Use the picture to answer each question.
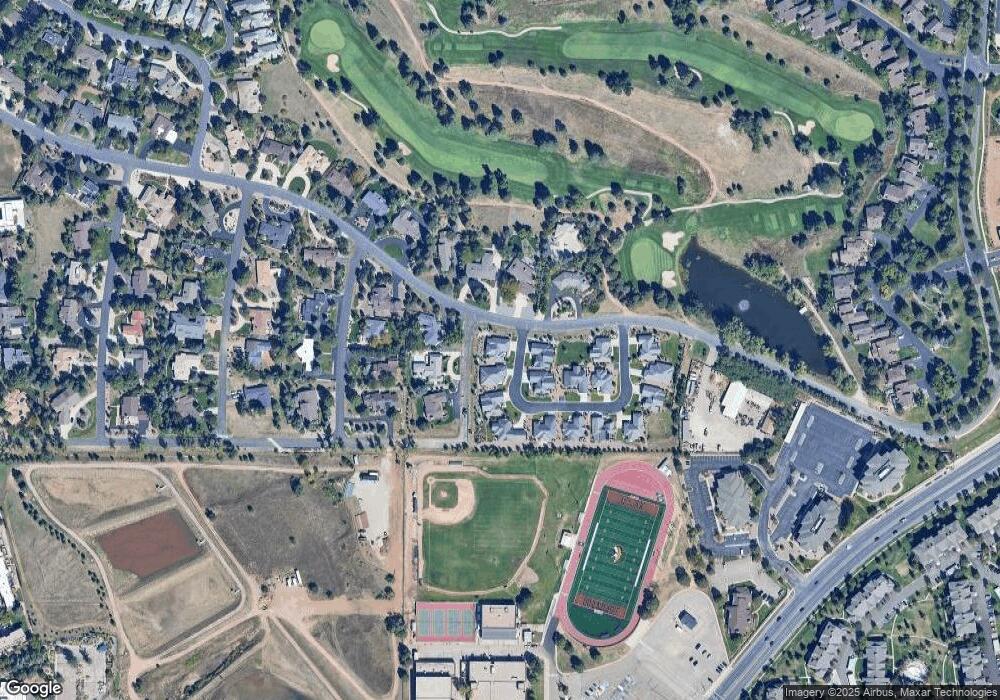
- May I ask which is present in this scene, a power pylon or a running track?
running track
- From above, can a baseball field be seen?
Yes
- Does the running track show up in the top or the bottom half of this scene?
bottom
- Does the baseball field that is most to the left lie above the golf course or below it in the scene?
below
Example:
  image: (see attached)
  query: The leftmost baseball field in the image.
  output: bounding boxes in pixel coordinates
[418,462,547,594]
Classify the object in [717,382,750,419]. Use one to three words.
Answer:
shed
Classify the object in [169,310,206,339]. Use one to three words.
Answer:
house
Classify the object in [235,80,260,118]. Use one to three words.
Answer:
house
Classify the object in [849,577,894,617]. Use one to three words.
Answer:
building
